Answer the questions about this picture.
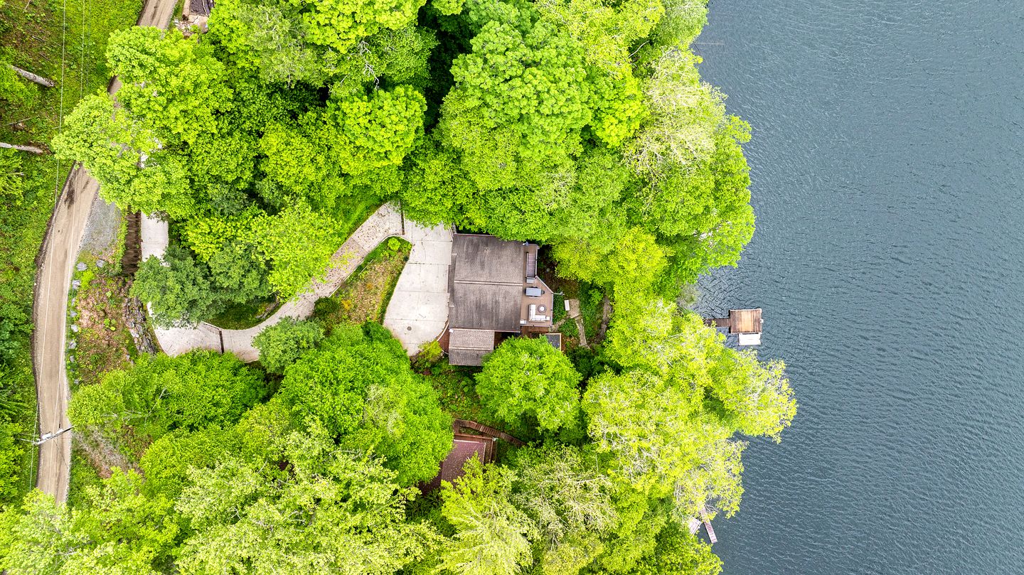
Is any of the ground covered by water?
Yes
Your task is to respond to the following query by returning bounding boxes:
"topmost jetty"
[700,308,764,334]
